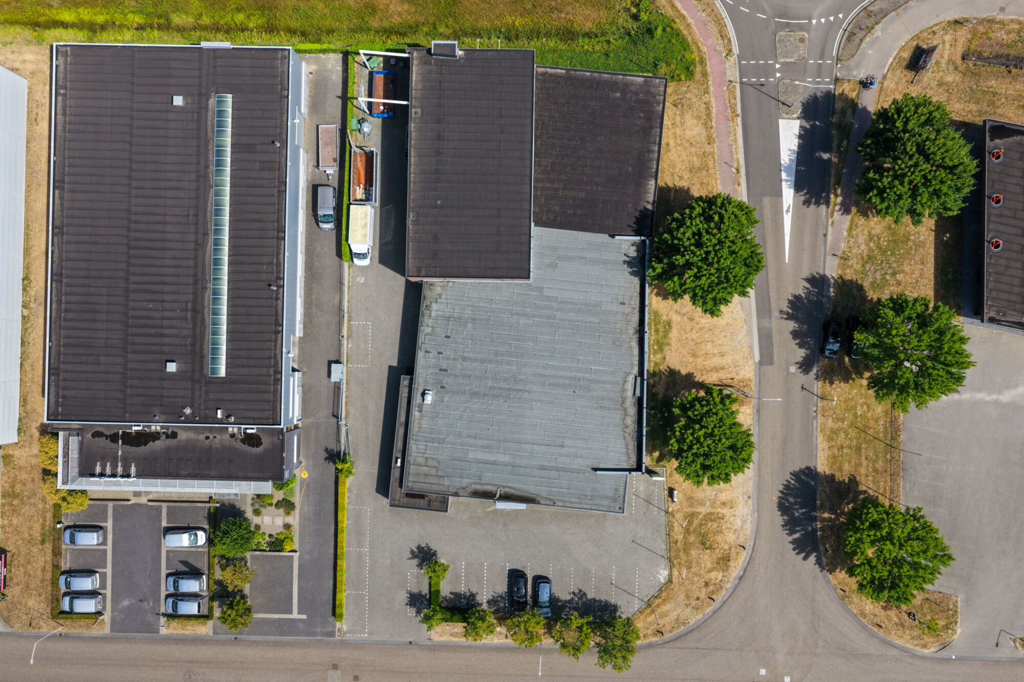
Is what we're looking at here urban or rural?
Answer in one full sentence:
The land in this view is best described as urban.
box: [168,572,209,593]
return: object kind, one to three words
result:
car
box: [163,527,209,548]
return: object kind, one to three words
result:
vehicle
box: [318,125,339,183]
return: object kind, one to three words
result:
trailer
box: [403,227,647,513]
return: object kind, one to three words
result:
building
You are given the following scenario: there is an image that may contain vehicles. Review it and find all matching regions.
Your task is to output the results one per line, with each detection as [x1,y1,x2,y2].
[534,575,554,617]
[509,570,529,613]
[163,527,209,548]
[168,572,209,593]
[65,526,107,546]
[820,319,843,360]
[166,595,208,616]
[61,570,103,591]
[316,185,337,231]
[63,592,105,614]
[348,204,374,268]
